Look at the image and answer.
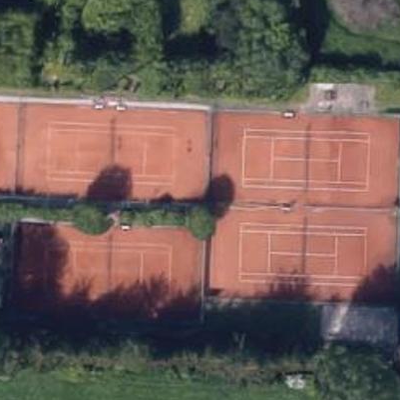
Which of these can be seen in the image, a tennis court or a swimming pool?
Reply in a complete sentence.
This aerial view contains a tennis court.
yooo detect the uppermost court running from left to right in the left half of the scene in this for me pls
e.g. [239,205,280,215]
[17,103,213,202]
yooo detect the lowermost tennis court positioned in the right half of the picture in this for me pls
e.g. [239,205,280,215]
[208,205,399,304]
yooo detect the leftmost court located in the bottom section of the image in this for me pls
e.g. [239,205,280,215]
[14,222,206,324]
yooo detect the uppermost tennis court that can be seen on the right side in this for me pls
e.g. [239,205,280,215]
[211,110,400,210]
